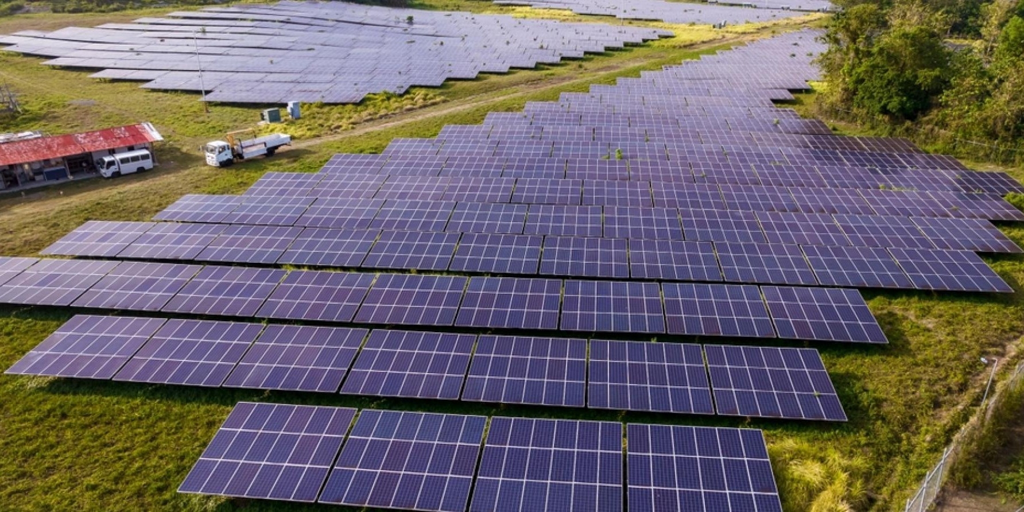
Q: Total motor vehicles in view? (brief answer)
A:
2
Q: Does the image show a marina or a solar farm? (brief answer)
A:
solar farm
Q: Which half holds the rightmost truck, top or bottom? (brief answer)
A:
top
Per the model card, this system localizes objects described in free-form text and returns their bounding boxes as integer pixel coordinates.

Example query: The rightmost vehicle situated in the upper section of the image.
[206,127,288,166]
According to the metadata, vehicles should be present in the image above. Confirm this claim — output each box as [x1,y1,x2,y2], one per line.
[206,127,288,166]
[99,145,154,176]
